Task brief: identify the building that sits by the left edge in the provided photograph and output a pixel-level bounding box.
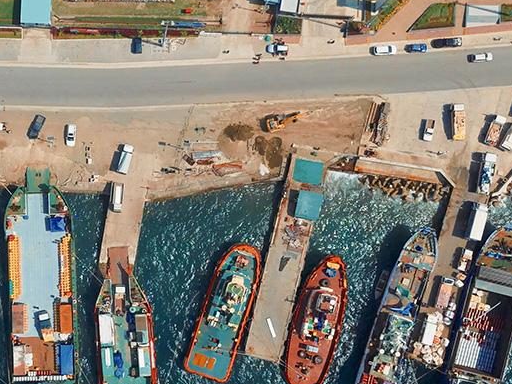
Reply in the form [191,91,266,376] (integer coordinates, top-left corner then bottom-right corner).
[21,0,52,29]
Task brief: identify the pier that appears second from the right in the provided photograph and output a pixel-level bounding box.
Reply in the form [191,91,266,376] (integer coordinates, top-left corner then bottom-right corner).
[241,147,332,364]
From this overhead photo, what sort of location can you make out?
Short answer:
port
